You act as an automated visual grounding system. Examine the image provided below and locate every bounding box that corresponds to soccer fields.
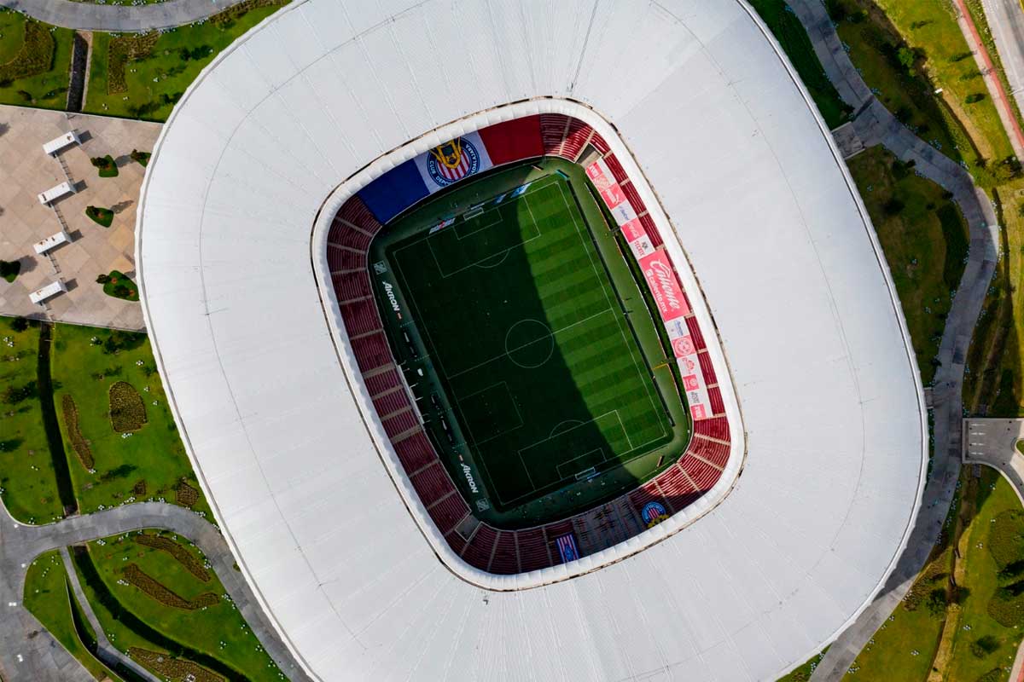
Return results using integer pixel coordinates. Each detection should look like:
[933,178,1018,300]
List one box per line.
[373,165,686,521]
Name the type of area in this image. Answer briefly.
sports ground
